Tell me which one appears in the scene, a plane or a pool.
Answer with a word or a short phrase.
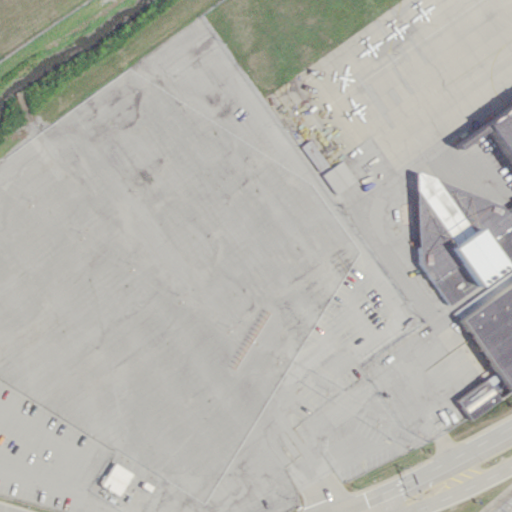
plane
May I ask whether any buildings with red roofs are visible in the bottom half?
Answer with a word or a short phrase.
No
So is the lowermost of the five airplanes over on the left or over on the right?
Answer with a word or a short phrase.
right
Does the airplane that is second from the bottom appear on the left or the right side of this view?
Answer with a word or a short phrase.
right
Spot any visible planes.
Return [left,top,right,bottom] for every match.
[334,66,356,92]
[388,19,410,40]
[346,98,366,122]
[360,36,382,58]
[413,1,435,22]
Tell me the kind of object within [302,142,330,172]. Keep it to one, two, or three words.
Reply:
shed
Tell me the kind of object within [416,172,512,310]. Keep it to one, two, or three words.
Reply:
building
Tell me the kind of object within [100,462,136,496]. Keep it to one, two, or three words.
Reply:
building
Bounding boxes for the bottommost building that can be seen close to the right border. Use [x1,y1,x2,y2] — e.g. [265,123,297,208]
[456,376,502,419]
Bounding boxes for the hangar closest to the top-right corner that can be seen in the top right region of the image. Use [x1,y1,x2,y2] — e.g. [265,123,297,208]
[454,106,512,168]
